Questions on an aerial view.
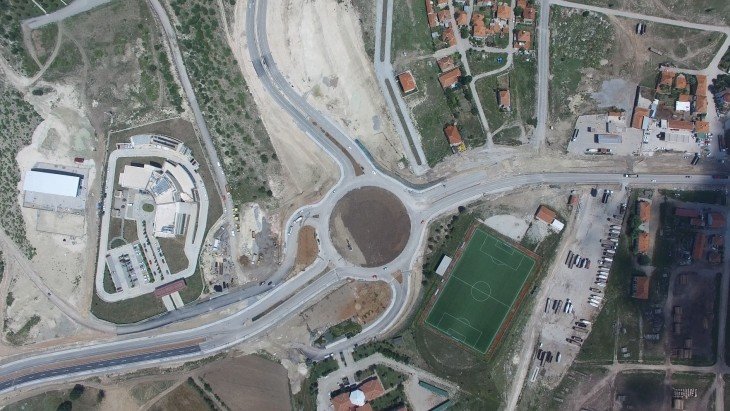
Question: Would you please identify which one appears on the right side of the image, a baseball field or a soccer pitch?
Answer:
soccer pitch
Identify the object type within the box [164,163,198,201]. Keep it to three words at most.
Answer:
building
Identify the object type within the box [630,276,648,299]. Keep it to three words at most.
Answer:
barn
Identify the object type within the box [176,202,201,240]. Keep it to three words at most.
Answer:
building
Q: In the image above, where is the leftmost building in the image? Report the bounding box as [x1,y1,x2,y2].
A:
[24,171,85,197]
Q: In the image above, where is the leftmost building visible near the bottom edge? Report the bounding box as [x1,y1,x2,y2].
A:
[329,373,386,411]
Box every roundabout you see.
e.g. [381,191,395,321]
[294,166,424,284]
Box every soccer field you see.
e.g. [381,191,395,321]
[420,218,538,360]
